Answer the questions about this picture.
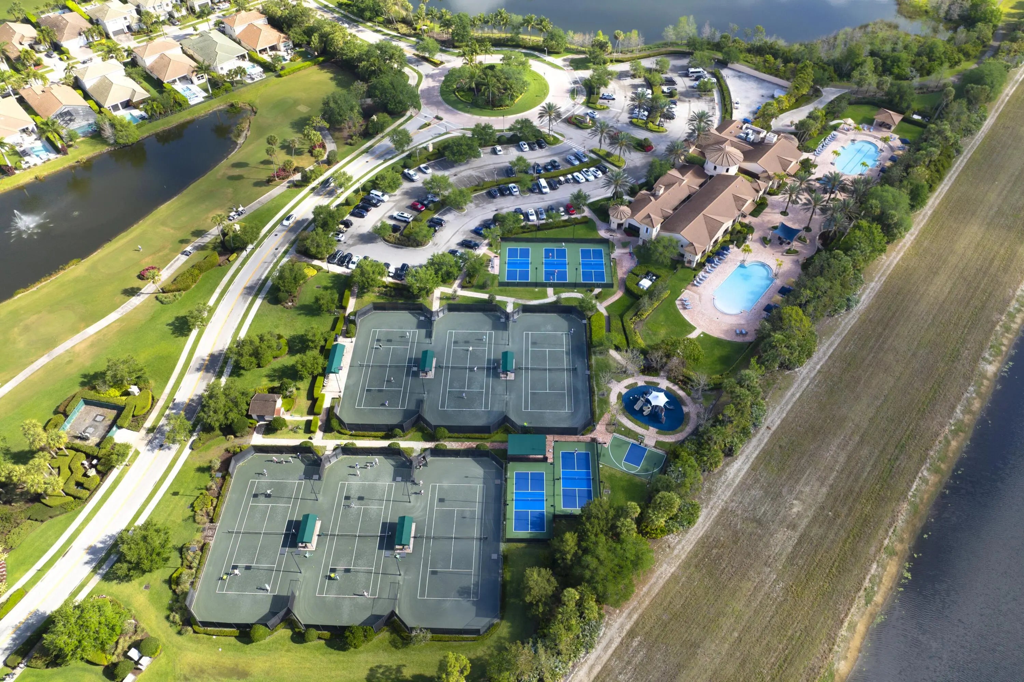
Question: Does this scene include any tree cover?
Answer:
Yes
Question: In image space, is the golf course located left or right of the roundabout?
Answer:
to the left of it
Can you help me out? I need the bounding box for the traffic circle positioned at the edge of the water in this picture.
[417,53,570,130]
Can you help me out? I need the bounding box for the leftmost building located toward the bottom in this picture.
[248,393,288,426]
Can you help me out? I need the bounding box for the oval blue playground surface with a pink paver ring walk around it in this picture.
[614,376,697,437]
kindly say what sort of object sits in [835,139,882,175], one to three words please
swimming pool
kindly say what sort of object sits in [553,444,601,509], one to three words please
sports court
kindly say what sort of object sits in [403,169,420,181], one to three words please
vehicle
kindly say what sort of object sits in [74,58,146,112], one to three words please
house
